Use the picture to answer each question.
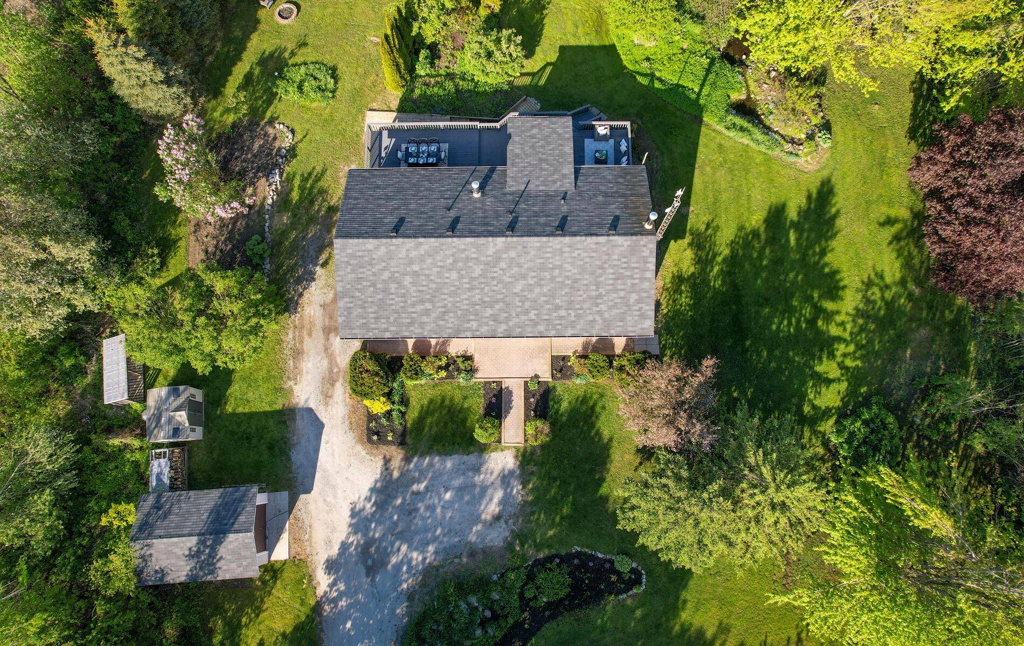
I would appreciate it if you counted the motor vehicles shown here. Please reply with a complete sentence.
I count no motor vehicles.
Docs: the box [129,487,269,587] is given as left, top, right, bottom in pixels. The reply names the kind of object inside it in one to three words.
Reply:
building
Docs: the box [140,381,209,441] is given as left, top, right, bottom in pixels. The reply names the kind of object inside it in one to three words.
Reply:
shed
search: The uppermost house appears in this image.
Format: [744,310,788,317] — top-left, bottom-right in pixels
[334,115,657,342]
